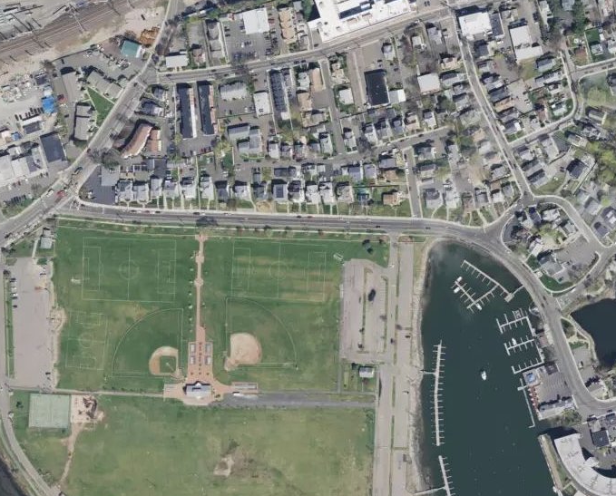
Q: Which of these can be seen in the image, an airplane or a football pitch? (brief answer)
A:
football pitch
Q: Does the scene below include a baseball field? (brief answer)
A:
Yes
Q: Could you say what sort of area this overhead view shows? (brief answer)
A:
residential area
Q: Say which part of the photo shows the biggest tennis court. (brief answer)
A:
bottom left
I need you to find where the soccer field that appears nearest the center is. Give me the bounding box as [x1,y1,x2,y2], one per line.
[232,240,327,303]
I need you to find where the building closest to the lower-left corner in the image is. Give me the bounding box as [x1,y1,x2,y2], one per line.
[186,383,211,397]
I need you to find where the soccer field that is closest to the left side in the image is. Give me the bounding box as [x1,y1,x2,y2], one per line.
[65,311,105,371]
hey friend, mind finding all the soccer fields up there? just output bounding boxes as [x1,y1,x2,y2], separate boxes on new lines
[65,311,105,371]
[232,240,327,303]
[81,236,176,305]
